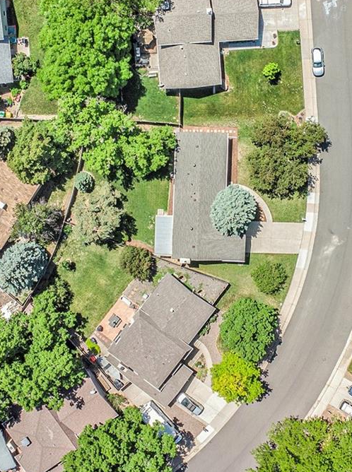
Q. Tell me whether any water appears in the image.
No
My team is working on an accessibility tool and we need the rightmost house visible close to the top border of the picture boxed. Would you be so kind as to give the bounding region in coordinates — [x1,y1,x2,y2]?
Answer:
[156,0,258,88]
